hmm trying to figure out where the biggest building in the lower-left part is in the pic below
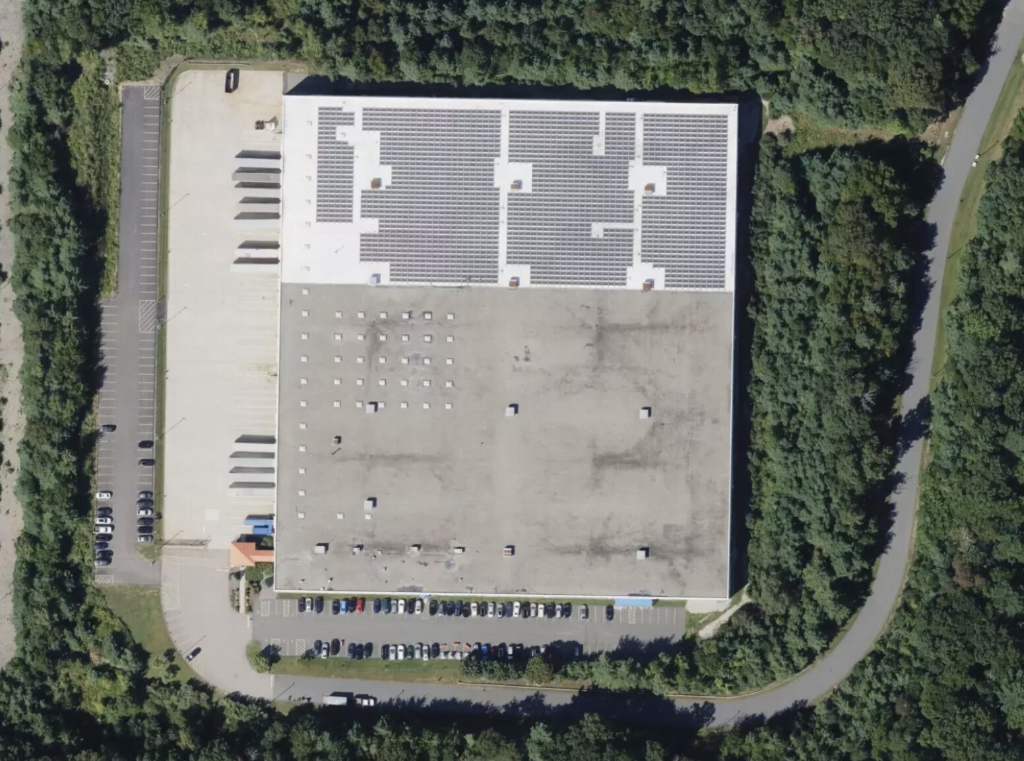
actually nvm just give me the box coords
[229,542,274,568]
